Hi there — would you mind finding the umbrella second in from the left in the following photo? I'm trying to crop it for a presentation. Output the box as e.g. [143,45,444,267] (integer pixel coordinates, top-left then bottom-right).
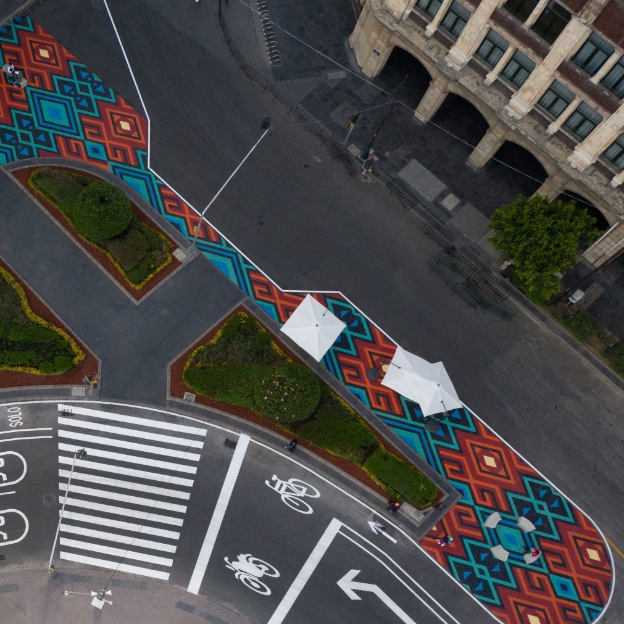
[365,346,431,404]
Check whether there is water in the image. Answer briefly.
No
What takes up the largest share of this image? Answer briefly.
paved ground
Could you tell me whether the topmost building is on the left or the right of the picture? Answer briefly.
right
